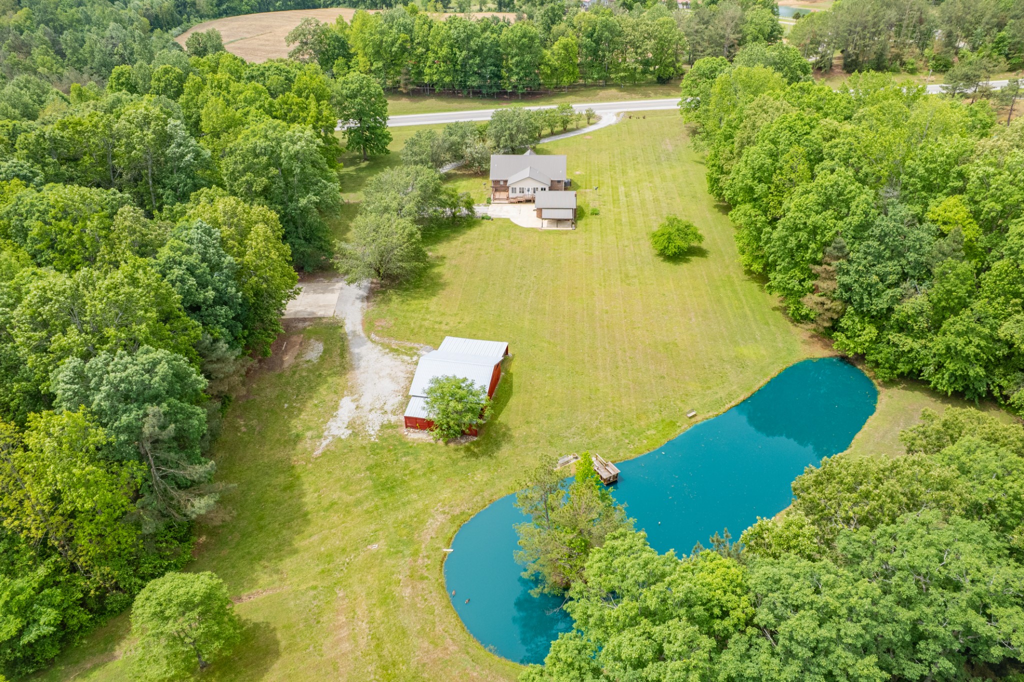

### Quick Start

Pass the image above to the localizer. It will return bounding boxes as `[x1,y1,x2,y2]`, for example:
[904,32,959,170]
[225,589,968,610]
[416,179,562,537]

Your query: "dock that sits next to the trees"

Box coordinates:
[593,448,621,483]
